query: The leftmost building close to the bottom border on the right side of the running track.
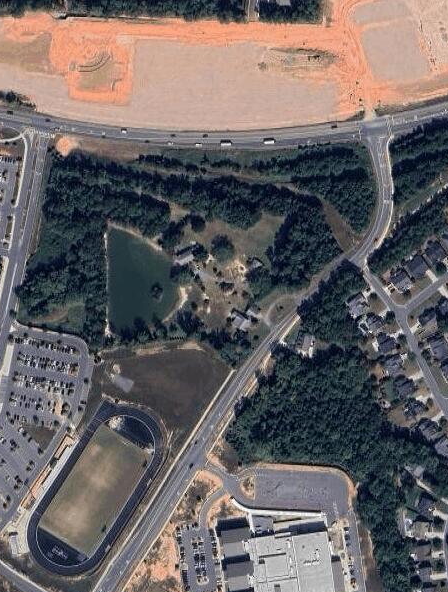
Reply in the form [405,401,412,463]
[221,518,345,592]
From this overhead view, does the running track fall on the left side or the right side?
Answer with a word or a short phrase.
left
